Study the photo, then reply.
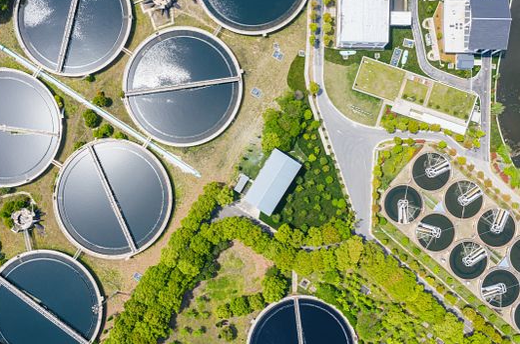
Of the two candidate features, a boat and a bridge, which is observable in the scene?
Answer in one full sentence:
I can see a bridge in this picture.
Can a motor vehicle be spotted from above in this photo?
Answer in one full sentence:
No, I can't see a single motor vehicle in this photo.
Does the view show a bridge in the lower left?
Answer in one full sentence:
Yes, a bridge shows up in the lower left.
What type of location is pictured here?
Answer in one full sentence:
What you see here is an industrial area.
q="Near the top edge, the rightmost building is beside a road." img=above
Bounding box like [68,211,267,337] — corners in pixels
[467,0,513,55]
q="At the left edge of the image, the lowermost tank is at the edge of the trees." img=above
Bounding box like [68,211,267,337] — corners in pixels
[0,249,109,344]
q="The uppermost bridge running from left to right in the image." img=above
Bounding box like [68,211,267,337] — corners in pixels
[122,76,243,98]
